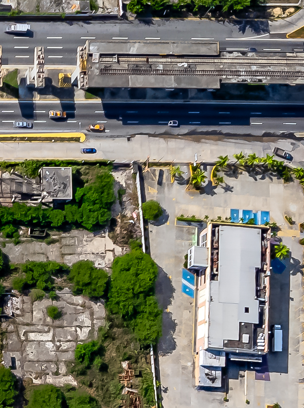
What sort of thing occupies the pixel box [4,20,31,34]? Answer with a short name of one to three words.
vehicle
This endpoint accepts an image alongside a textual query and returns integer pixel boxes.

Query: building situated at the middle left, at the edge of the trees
[39,166,73,202]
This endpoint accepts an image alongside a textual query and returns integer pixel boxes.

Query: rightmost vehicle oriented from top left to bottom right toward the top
[274,145,293,162]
